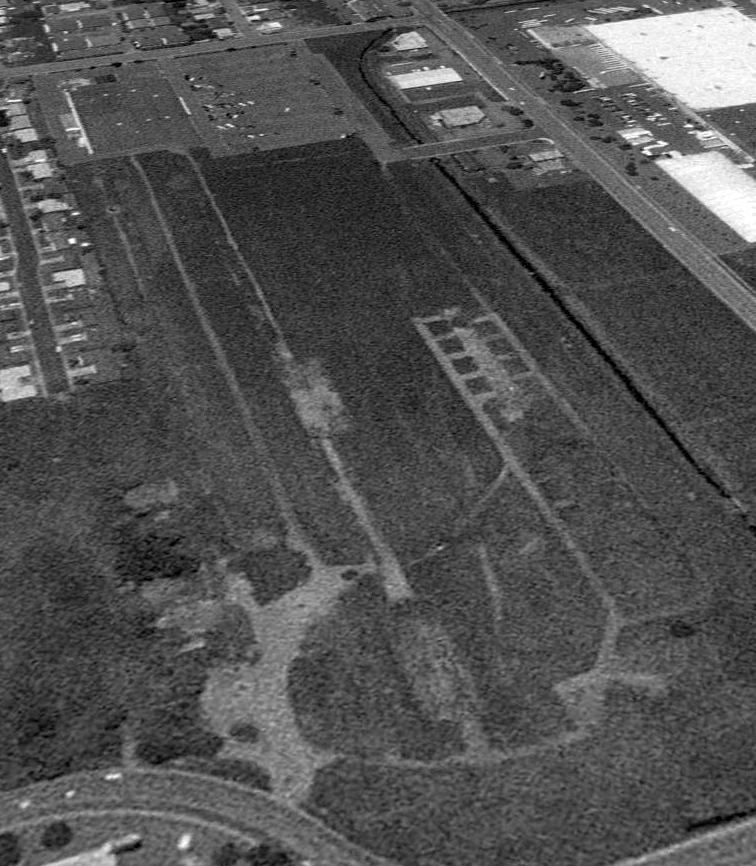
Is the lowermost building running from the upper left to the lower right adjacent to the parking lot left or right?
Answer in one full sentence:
The lowermost building running from the upper left to the lower right adjacent to the parking lot is on the right side of the image.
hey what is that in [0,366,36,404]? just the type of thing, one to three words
house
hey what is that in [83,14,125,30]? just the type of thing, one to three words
building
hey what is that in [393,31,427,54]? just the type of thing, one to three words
building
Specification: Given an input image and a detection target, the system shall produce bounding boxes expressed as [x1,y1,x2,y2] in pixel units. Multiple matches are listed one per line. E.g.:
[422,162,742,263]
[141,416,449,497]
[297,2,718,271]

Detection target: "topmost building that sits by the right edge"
[585,7,756,112]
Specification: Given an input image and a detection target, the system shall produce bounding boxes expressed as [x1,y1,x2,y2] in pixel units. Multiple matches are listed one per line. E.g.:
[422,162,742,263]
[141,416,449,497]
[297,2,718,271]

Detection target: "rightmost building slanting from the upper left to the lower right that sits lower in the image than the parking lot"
[654,151,756,245]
